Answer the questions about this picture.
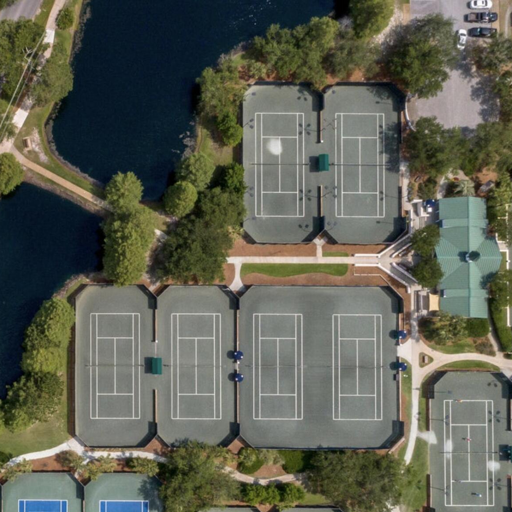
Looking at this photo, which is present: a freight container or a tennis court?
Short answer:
tennis court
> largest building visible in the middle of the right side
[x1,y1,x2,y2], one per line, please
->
[432,196,502,318]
